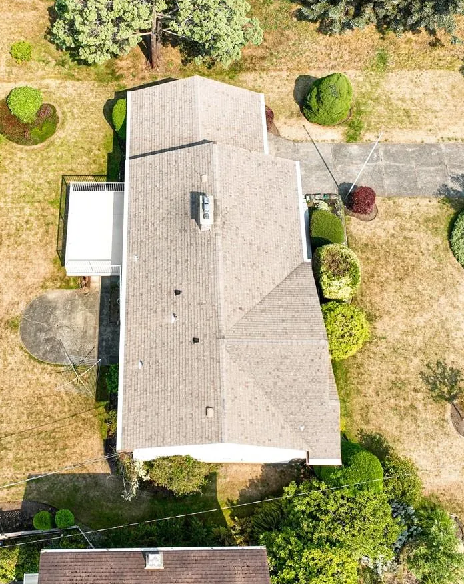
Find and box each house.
[23,545,272,584]
[115,76,342,473]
